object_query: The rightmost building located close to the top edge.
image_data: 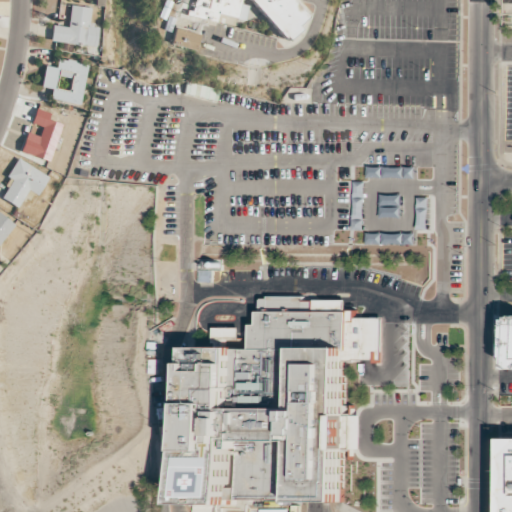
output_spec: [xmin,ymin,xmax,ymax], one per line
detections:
[255,0,319,40]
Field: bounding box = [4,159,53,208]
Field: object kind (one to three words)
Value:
house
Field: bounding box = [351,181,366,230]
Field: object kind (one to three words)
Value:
building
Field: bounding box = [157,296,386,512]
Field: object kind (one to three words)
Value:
building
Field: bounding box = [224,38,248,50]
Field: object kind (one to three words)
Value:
vehicle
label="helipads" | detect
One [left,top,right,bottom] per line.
[164,458,206,498]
